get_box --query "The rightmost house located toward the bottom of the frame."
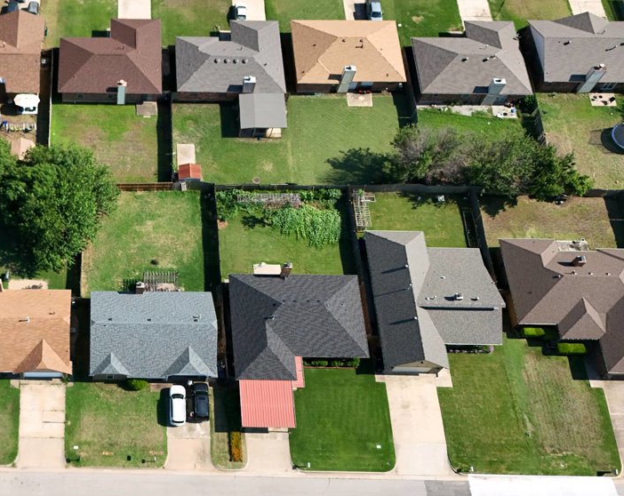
[494,239,624,381]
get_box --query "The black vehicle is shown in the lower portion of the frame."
[192,382,210,419]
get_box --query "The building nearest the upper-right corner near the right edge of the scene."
[522,10,624,96]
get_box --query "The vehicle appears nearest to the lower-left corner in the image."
[168,388,186,425]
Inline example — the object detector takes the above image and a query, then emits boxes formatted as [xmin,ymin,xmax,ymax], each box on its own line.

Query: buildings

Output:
[363,231,505,376]
[291,20,406,98]
[178,162,201,187]
[494,239,624,381]
[0,277,73,382]
[85,280,218,386]
[229,262,370,387]
[176,20,285,104]
[522,10,624,96]
[408,20,533,108]
[0,8,45,106]
[58,18,161,107]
